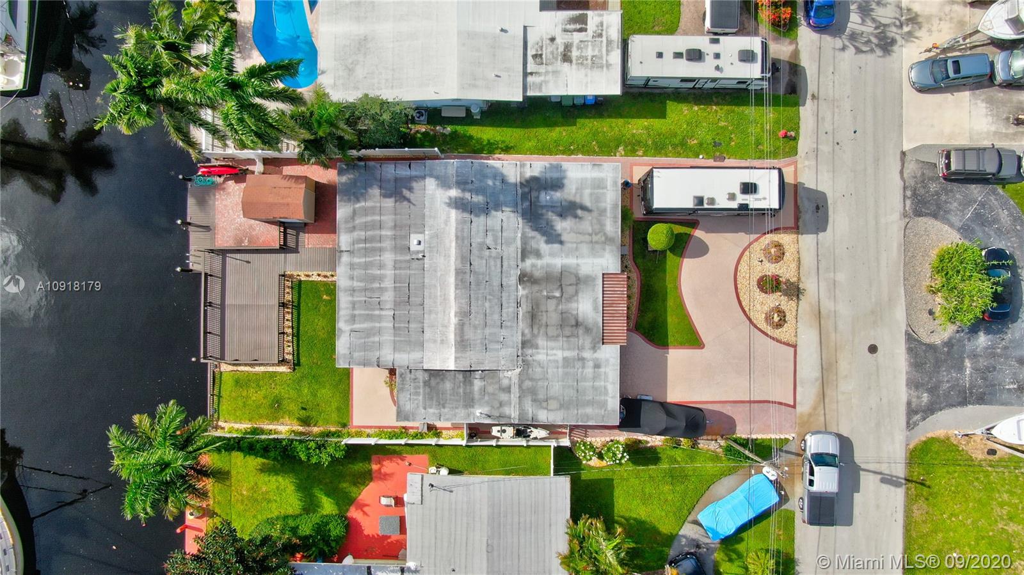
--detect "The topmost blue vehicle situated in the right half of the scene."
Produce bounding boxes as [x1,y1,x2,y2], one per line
[800,0,836,30]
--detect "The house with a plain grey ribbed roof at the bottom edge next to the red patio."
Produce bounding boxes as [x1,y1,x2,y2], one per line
[404,470,571,575]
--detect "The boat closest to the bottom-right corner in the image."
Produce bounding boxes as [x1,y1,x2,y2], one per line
[987,410,1024,443]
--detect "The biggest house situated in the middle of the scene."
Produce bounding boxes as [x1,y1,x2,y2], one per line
[336,159,627,425]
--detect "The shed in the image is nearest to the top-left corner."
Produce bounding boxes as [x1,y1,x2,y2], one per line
[242,176,316,221]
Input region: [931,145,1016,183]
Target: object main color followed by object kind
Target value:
gray car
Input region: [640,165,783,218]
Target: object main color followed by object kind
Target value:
white camper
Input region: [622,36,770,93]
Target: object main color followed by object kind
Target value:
white vehicle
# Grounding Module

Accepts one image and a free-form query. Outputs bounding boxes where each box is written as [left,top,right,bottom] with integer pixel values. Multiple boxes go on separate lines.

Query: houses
[404,470,571,575]
[336,159,627,425]
[317,0,622,104]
